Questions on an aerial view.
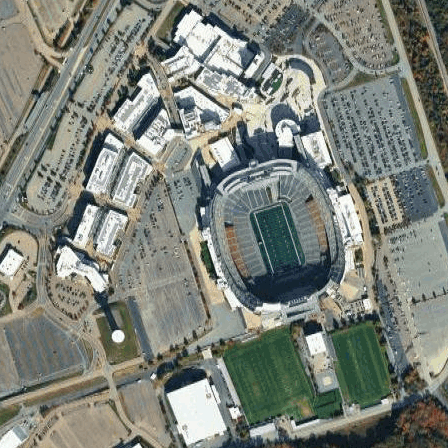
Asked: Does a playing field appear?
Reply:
Yes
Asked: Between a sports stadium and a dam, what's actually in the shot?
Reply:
sports stadium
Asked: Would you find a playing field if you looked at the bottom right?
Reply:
Yes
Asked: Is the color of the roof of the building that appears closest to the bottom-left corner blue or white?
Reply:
white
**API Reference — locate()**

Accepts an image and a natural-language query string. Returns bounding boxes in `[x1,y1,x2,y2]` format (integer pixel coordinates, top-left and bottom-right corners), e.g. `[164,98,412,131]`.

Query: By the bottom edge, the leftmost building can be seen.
[0,425,29,448]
